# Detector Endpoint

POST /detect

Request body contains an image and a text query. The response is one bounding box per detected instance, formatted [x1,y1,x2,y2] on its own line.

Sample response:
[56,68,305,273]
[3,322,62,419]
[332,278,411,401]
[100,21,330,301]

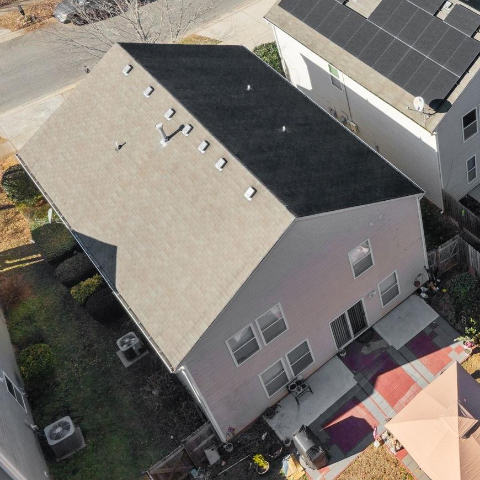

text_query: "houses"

[0,318,47,480]
[19,43,434,447]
